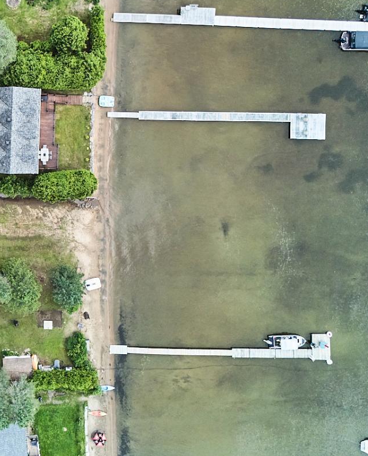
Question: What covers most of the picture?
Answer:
water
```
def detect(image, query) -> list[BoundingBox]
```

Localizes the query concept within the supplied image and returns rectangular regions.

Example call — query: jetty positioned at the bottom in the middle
[109,331,333,364]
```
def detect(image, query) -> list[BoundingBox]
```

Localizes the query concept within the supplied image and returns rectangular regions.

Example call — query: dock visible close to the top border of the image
[113,4,368,31]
